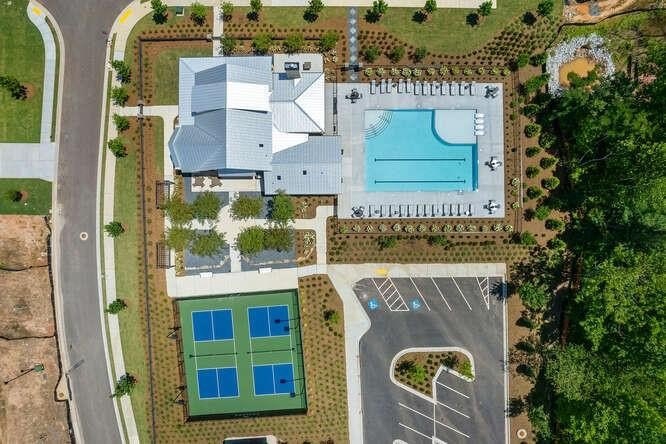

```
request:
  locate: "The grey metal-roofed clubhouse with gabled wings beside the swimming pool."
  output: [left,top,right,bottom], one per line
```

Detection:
[168,53,343,195]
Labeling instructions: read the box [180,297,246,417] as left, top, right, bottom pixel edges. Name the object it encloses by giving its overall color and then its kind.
green sports court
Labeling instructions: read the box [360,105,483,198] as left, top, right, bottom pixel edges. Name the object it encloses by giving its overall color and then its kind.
blue swimming pool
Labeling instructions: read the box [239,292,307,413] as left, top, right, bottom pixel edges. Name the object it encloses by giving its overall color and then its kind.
green sports court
